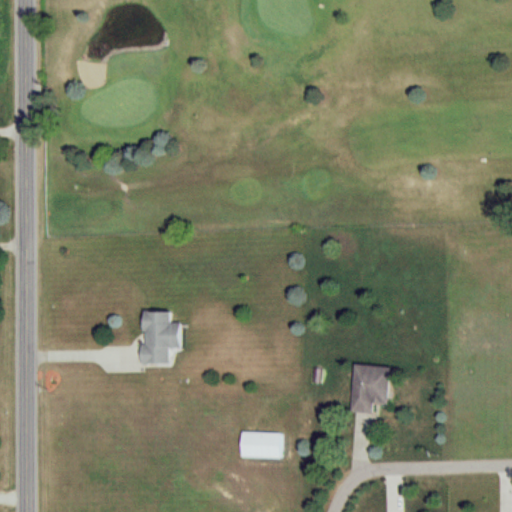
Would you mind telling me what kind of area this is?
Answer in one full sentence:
This looks like a golf course.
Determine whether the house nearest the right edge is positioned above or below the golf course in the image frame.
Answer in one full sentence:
Relative to the golf course, the house nearest the right edge lies below it.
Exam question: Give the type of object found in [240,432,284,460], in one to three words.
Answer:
barn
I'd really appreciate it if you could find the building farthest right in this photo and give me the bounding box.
[352,364,389,414]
